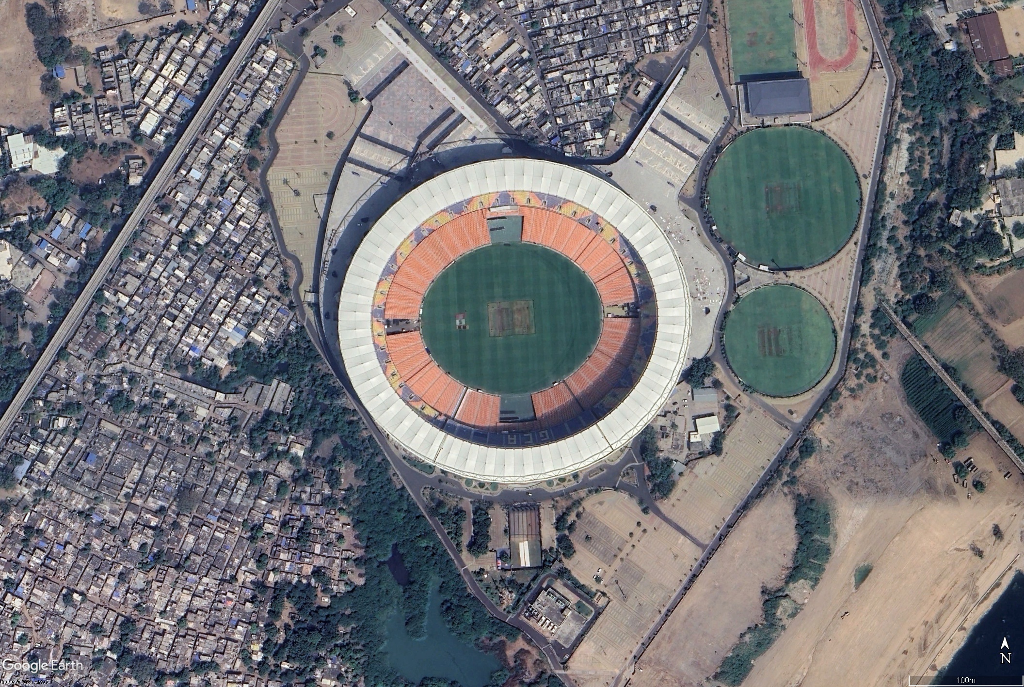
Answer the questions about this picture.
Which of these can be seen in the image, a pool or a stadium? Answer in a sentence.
The one in the frame is a stadium.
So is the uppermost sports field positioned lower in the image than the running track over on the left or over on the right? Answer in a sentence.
The uppermost sports field positioned lower in the image than the running track sits on the right side.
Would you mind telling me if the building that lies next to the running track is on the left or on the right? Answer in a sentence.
The building that lies next to the running track appears in the right half of the scene.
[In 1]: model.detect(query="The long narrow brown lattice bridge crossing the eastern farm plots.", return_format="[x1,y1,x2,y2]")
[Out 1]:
[876,294,1024,476]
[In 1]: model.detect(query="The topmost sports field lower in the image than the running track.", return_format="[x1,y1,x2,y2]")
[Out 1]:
[704,126,863,270]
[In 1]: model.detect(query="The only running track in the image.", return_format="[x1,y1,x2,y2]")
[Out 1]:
[807,0,858,83]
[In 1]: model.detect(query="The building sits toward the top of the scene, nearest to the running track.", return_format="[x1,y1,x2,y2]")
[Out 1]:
[736,78,812,126]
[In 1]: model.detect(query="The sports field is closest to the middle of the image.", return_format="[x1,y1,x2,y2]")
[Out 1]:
[422,242,603,394]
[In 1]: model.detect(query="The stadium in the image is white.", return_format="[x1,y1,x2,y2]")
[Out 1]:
[339,158,692,485]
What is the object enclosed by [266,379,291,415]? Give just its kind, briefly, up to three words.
shed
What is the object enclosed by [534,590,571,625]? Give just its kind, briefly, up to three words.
building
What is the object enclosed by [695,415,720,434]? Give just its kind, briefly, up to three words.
building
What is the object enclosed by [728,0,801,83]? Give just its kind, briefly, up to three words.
sports field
